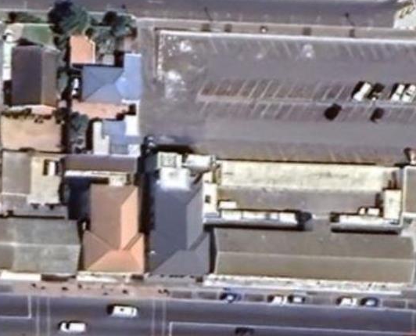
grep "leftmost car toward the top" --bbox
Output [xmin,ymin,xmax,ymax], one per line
[325,101,342,122]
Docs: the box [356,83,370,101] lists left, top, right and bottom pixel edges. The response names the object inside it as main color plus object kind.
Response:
white vehicle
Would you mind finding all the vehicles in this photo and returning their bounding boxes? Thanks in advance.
[289,295,307,305]
[110,306,135,315]
[368,83,382,102]
[220,293,241,302]
[356,83,370,101]
[390,84,406,102]
[338,298,357,306]
[360,298,380,307]
[270,295,288,303]
[407,149,416,167]
[325,101,342,122]
[370,105,385,123]
[60,322,85,331]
